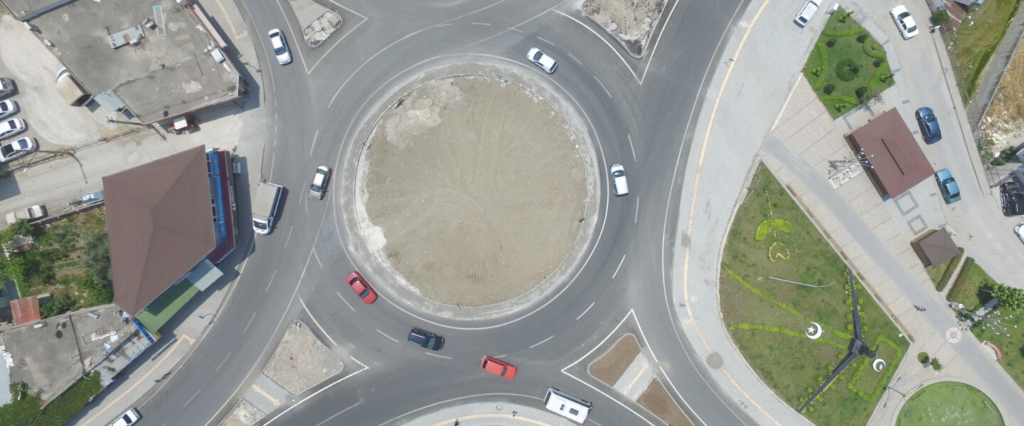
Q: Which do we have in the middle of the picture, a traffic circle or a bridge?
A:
traffic circle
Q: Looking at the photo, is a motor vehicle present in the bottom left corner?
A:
Yes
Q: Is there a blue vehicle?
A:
Yes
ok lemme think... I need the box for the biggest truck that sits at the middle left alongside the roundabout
[255,182,284,233]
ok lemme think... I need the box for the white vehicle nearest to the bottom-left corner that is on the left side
[106,406,141,426]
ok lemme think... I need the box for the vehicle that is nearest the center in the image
[610,163,629,197]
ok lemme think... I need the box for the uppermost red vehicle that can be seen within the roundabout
[345,271,379,305]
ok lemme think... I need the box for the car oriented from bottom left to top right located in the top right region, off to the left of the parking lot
[793,0,824,28]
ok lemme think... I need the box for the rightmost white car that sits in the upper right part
[890,4,918,40]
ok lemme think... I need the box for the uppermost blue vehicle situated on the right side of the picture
[916,107,941,144]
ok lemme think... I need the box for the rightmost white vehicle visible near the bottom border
[545,388,592,424]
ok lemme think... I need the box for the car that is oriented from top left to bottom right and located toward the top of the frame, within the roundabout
[526,47,560,75]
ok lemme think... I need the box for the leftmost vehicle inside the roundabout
[310,164,332,201]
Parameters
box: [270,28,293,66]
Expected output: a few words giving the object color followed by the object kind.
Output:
white car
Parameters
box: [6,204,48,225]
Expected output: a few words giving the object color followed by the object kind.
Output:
white car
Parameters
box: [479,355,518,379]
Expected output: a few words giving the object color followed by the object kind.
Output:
red car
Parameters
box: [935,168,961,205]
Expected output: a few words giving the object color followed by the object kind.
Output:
blue car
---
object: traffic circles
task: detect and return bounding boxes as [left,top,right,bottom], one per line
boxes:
[285,5,658,378]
